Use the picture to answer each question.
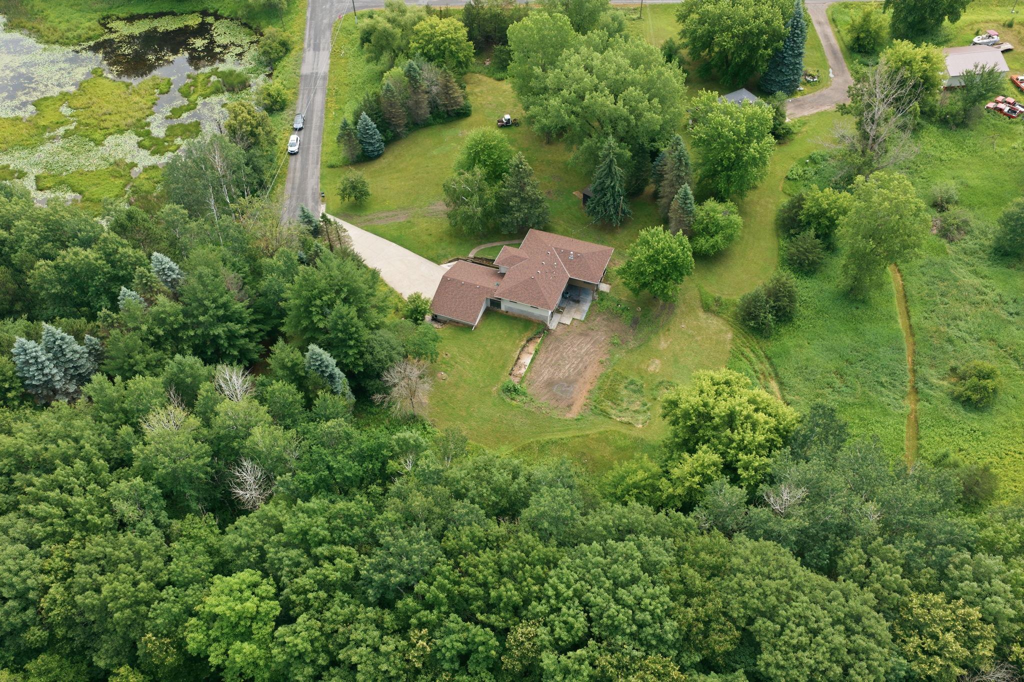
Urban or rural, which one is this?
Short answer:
rural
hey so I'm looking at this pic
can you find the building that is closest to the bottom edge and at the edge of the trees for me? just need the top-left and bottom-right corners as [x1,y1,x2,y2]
[431,228,614,334]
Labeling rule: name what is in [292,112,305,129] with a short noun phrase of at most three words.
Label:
vehicle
